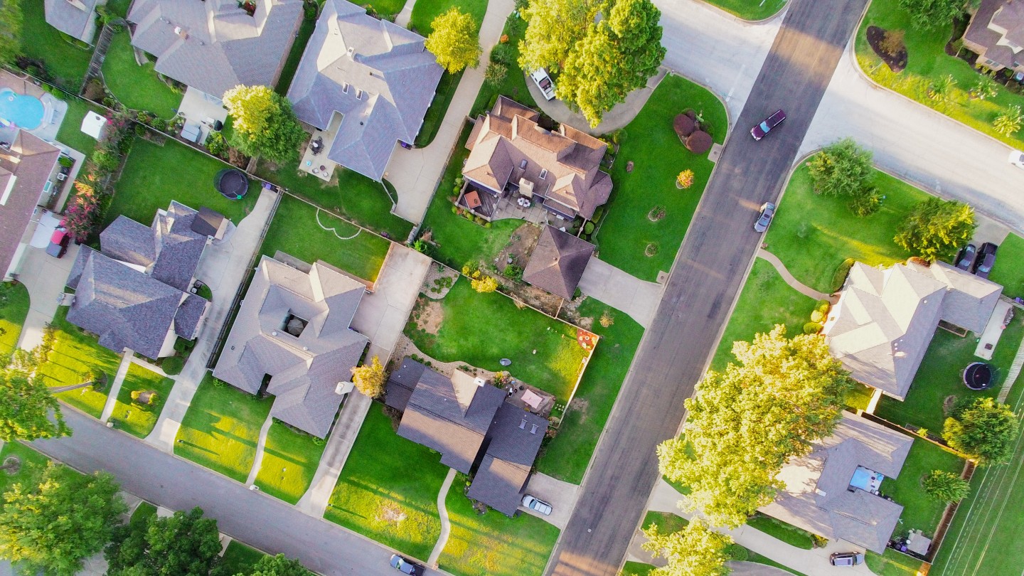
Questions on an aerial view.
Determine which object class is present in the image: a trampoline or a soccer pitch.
trampoline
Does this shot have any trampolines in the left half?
Yes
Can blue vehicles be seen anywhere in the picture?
Yes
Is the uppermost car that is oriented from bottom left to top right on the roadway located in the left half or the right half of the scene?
right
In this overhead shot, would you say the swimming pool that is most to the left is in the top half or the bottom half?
top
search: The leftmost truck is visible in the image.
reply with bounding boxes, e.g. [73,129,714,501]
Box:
[42,226,72,261]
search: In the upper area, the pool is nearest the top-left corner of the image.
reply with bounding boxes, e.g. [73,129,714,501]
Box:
[0,86,52,131]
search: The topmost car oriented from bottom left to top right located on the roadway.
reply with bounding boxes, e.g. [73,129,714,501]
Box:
[750,109,786,140]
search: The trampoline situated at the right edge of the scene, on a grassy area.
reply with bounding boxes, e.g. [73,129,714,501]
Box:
[959,362,1000,391]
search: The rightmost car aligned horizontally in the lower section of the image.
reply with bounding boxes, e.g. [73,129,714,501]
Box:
[828,550,862,567]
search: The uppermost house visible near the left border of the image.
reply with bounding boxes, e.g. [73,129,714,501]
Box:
[44,0,118,44]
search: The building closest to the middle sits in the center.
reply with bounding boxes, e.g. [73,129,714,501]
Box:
[522,224,596,301]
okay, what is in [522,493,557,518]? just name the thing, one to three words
vehicle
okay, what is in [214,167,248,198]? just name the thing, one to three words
trampoline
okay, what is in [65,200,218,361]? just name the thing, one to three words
house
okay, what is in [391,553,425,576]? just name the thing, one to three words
car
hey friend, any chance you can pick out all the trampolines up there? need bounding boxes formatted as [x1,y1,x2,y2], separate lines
[214,167,248,198]
[959,362,1000,391]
